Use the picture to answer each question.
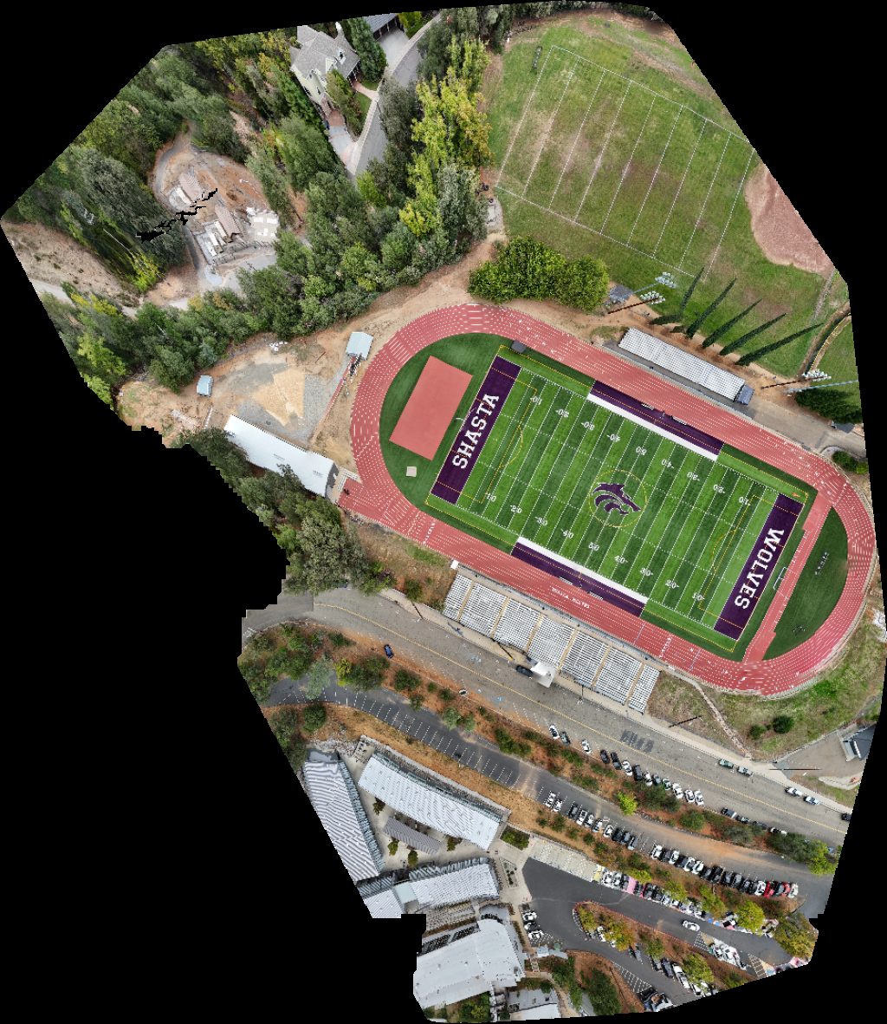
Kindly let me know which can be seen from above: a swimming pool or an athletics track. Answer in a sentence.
The image shows an athletics track.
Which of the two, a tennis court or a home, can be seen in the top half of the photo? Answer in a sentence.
Visible in the top half of the photo is a home.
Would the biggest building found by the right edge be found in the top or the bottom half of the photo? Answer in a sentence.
The bottom half of the photo is where the biggest building found by the right edge is.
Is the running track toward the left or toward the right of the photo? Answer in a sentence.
You can find the running track on the right side of the picture.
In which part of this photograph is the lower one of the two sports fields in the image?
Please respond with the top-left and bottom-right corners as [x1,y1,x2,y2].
[379,333,850,661]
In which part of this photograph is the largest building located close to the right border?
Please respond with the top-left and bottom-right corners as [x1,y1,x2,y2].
[839,723,874,762]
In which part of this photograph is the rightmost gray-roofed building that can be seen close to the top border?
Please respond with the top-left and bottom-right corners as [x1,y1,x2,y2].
[365,6,396,41]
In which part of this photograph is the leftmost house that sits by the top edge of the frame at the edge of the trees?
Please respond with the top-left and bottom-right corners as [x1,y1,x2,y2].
[292,21,361,103]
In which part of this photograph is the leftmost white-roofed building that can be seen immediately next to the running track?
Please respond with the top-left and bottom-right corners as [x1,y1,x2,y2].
[220,414,335,496]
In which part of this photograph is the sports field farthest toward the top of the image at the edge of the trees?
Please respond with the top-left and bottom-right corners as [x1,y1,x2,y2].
[488,15,828,381]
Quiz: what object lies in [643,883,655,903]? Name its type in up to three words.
vehicle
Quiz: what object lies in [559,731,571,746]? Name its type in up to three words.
vehicle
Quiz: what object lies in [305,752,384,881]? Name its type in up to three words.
building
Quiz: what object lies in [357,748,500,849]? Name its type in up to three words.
building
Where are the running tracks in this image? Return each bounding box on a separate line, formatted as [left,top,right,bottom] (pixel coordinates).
[339,304,876,695]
